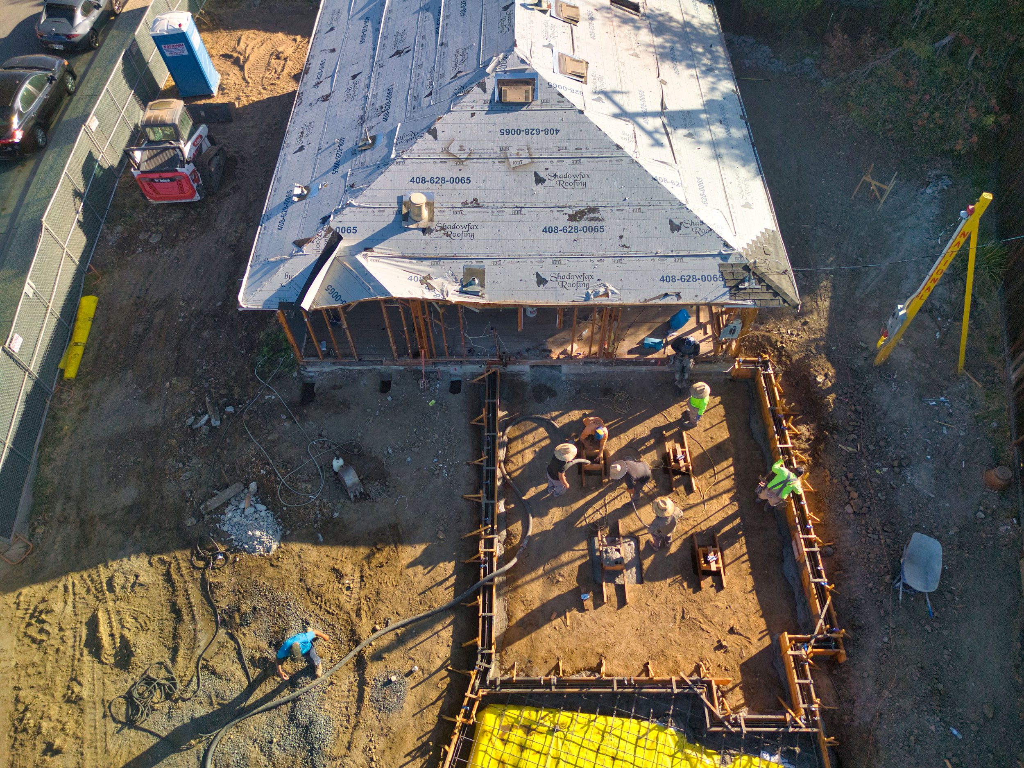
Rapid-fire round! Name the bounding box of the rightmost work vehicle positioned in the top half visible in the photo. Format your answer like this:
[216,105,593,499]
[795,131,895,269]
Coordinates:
[108,87,239,199]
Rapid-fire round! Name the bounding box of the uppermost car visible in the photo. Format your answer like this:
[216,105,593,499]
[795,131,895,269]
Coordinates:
[23,0,125,55]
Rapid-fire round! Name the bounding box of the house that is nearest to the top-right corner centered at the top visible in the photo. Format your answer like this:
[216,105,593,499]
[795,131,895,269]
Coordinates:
[236,0,806,393]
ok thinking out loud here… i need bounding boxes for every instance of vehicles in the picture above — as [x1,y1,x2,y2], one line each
[108,87,239,199]
[0,54,76,154]
[23,0,125,55]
